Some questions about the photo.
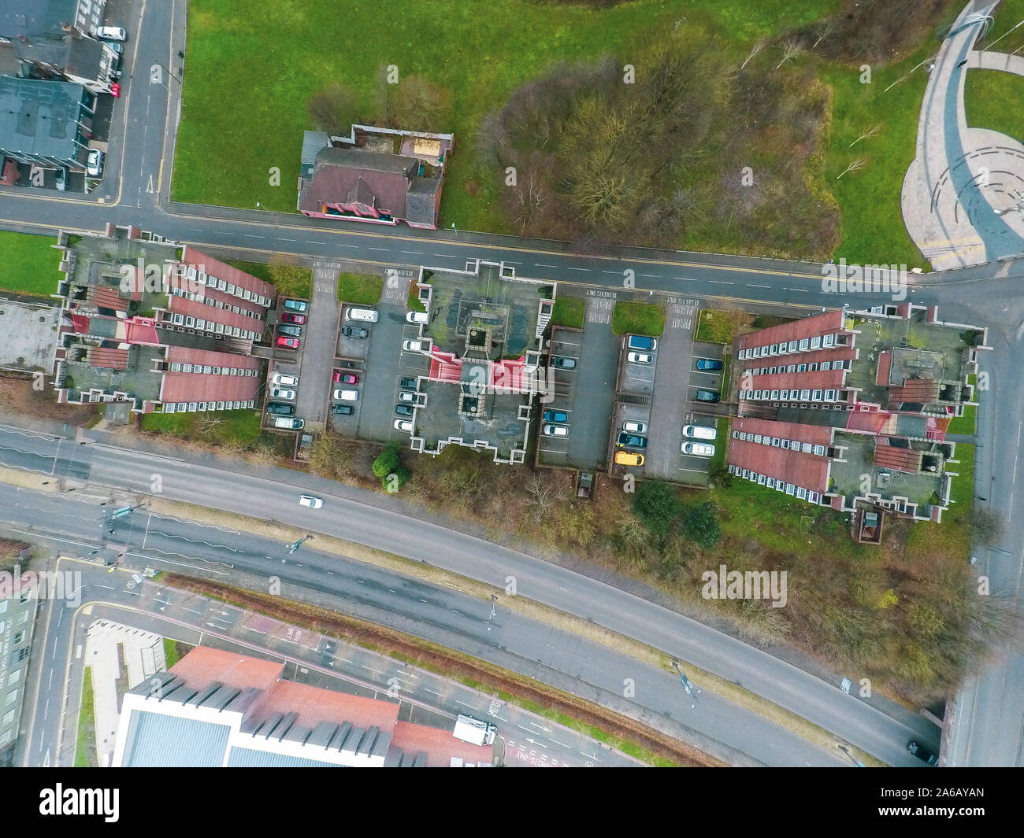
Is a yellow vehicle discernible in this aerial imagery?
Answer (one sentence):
Yes, the frame does contain a yellow vehicle.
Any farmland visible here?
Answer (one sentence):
No, no farmland is visible.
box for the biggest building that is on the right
[723,299,988,524]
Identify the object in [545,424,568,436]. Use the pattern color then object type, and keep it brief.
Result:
white vehicle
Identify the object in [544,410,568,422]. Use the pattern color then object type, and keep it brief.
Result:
blue vehicle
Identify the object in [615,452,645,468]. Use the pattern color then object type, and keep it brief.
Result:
yellow vehicle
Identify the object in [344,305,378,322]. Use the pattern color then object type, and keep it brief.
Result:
white vehicle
